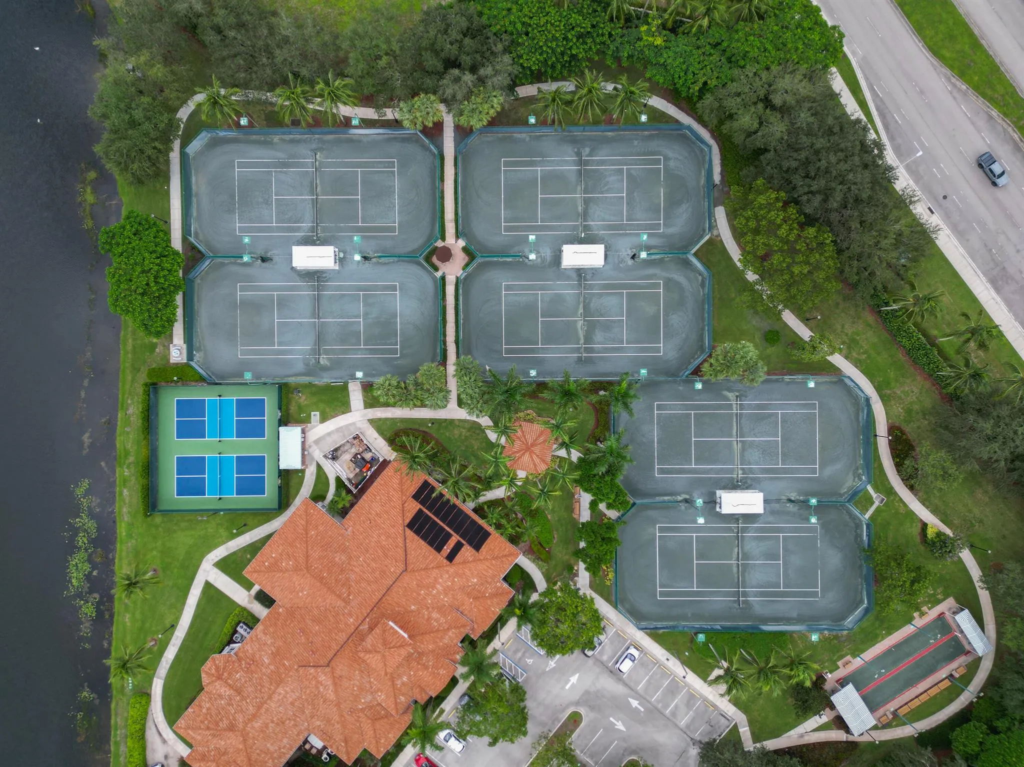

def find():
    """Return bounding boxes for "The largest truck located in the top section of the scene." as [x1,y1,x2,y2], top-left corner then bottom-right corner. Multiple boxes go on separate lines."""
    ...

[974,152,1006,188]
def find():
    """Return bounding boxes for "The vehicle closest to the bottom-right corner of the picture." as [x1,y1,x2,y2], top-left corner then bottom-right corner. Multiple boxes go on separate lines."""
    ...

[614,645,639,674]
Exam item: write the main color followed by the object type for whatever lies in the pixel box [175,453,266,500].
blue sports court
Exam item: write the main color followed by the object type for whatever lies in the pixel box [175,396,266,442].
blue sports court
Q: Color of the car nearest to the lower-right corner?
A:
white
